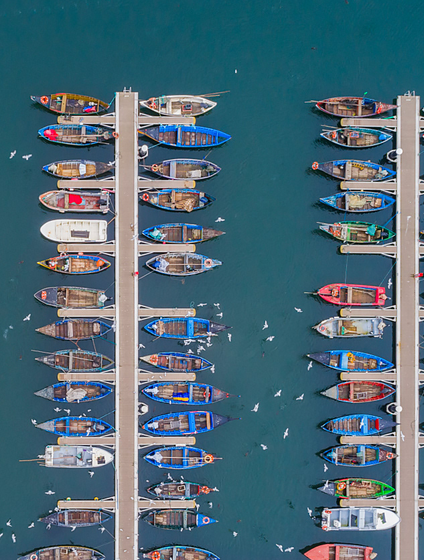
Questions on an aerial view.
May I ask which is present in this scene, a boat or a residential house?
boat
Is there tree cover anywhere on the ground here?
No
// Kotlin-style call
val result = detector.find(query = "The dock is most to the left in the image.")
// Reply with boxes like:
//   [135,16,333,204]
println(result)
[57,86,195,560]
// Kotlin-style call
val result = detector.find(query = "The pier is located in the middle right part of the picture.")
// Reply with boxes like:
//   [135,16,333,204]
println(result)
[338,89,424,560]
